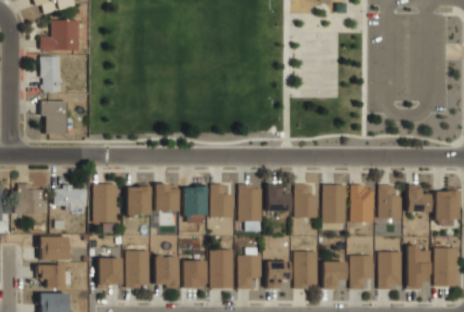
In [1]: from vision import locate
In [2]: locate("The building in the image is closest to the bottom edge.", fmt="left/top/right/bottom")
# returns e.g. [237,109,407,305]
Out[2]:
[42,294,72,312]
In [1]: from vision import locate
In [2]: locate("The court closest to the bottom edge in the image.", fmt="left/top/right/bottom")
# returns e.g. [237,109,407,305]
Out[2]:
[298,33,340,98]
